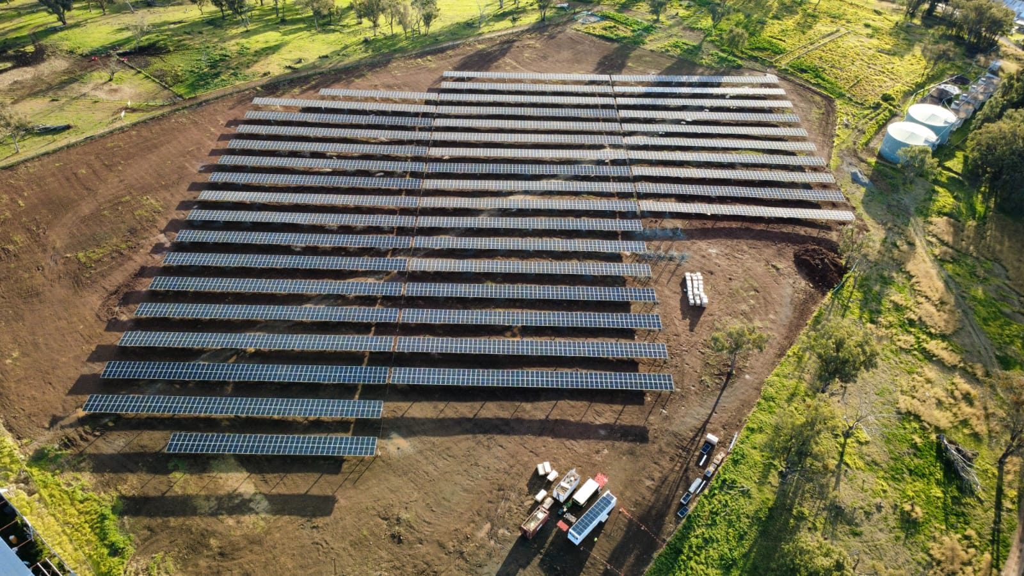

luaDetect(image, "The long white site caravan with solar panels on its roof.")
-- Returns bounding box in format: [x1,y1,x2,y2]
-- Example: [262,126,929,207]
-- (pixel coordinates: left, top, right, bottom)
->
[568,490,617,542]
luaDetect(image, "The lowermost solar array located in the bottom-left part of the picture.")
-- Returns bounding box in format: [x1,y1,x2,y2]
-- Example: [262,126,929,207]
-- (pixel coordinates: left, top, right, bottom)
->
[164,433,378,456]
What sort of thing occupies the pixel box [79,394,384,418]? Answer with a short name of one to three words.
solar array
